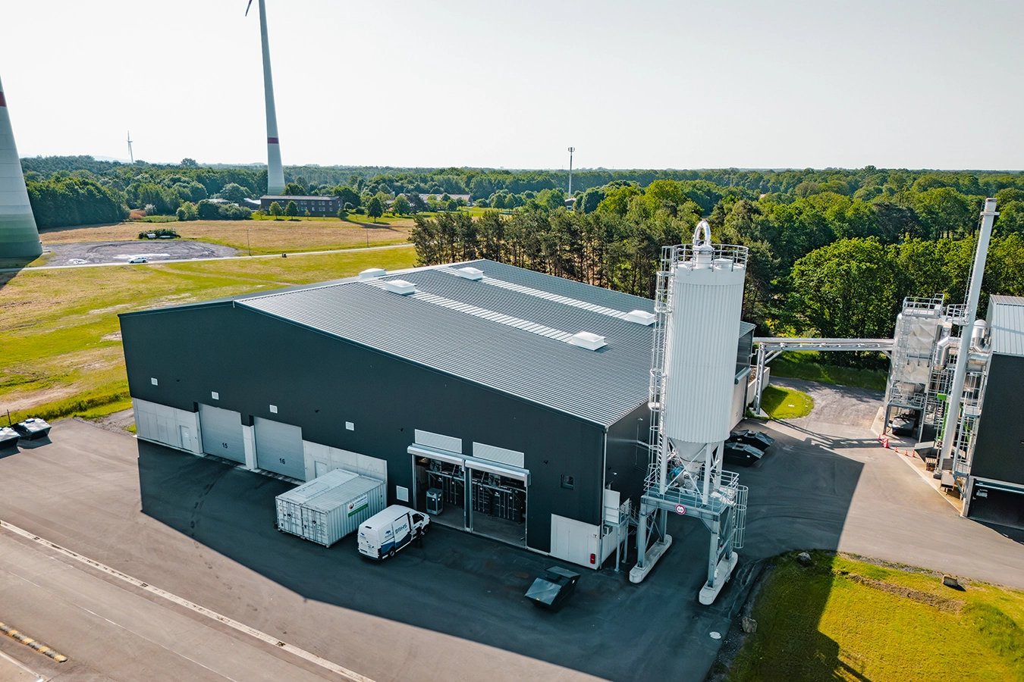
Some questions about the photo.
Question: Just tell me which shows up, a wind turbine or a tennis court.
wind turbine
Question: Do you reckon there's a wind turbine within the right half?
No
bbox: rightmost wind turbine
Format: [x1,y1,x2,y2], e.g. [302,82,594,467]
[249,0,286,193]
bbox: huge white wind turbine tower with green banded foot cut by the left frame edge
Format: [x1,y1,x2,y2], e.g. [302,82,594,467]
[0,63,48,262]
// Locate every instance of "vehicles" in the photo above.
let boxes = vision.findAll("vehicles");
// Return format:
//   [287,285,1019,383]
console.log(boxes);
[357,503,433,563]
[127,257,147,263]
